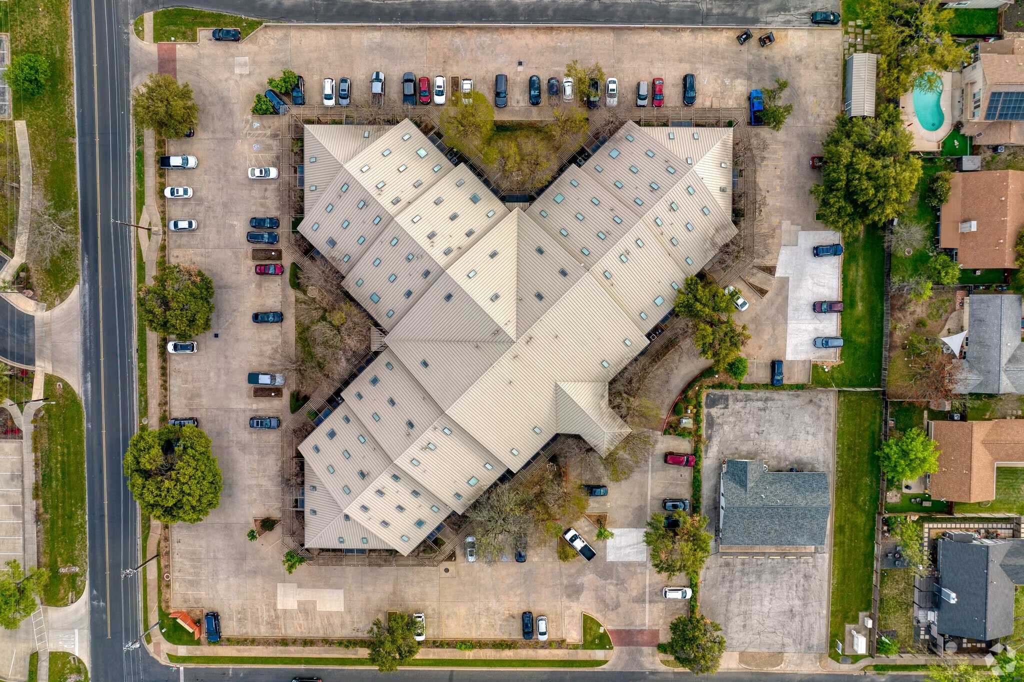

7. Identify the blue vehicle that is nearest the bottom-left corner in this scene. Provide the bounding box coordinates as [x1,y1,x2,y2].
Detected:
[204,610,221,642]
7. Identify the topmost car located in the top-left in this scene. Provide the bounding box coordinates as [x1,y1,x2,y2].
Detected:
[213,27,243,43]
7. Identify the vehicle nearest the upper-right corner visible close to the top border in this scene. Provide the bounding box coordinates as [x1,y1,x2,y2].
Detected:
[809,10,839,26]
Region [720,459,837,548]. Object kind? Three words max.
building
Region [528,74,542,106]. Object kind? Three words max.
car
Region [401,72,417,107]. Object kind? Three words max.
vehicle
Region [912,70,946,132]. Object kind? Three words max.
swimming pool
